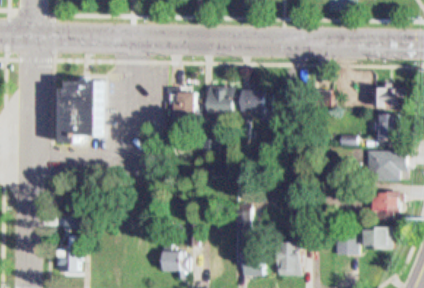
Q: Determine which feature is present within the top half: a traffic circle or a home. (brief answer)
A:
home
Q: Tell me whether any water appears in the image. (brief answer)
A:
No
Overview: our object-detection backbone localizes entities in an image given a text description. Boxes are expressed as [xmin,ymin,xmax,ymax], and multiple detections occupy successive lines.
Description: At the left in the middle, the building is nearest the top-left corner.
[57,82,106,146]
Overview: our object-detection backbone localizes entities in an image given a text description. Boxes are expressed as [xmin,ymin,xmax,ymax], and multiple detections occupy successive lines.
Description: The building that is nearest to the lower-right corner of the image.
[364,227,395,250]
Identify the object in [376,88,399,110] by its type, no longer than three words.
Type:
house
